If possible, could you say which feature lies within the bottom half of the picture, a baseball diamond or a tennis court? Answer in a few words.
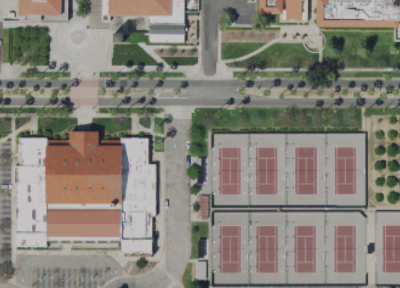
tennis court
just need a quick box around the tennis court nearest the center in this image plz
[220,147,241,194]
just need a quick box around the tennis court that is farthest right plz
[382,226,400,272]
